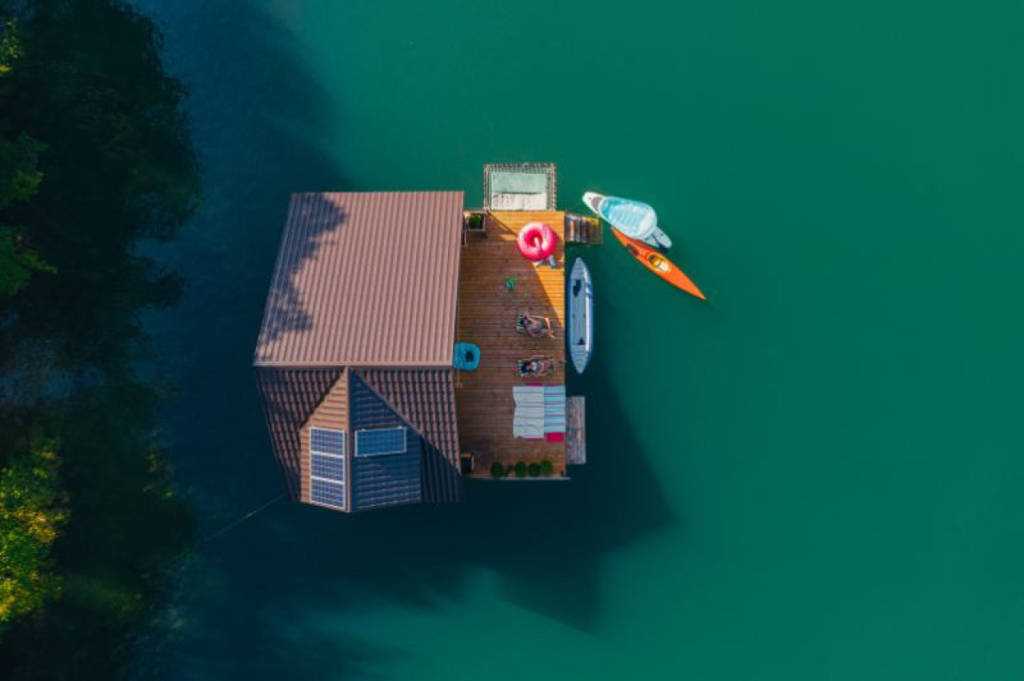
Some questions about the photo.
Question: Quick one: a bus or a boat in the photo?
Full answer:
It is a boat that can be seen here.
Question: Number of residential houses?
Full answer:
Just 1 residential house appears in this view.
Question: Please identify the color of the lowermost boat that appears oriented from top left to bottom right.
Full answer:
The color of the lowermost boat that appears oriented from top left to bottom right is orange.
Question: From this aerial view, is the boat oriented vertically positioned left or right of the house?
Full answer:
The boat oriented vertically appears to the right of the house in this view.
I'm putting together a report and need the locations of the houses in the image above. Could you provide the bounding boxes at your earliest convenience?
[254,189,466,515]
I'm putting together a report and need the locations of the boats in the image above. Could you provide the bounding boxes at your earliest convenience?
[612,228,706,300]
[599,197,658,233]
[567,258,594,374]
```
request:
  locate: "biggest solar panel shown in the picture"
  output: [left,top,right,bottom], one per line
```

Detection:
[353,429,404,459]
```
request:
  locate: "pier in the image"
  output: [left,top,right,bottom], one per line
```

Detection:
[567,397,586,465]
